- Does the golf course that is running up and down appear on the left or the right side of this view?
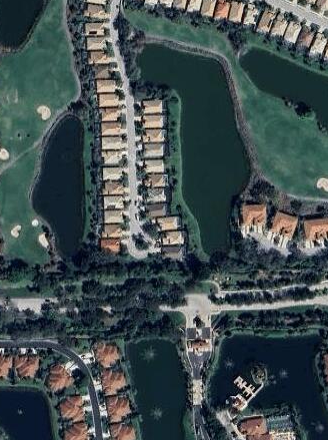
left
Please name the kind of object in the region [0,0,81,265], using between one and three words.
golf course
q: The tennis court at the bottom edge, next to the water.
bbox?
[266,417,294,434]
